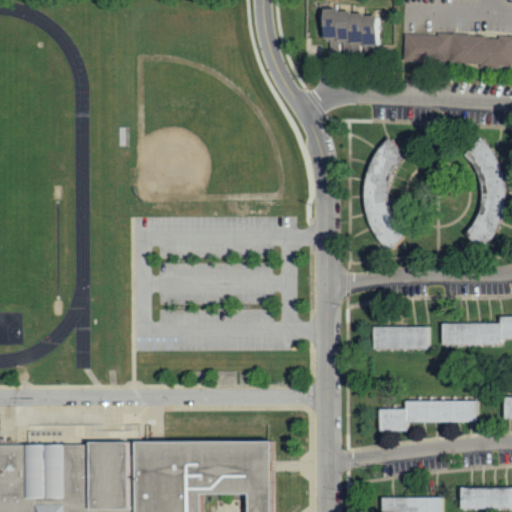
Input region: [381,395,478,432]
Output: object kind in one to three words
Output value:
building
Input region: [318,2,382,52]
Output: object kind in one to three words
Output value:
house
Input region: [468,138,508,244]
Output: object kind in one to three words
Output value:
building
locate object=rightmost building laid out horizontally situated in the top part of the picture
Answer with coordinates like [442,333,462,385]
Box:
[405,32,512,69]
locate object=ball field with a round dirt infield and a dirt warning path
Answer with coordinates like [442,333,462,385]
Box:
[137,54,284,212]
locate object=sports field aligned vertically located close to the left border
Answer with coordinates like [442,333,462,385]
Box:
[0,16,76,356]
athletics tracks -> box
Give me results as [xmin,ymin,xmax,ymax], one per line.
[0,4,90,369]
